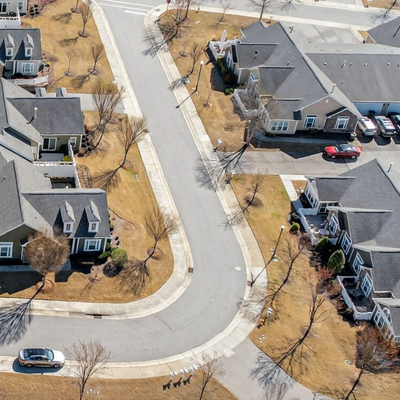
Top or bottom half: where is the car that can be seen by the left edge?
bottom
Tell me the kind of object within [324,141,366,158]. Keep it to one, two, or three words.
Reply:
car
